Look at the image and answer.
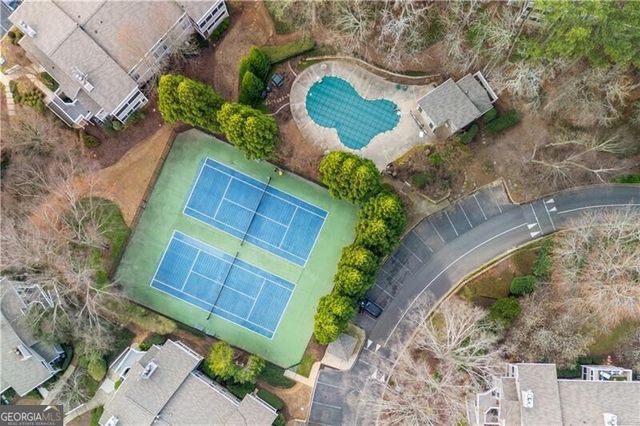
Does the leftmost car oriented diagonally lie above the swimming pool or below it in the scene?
below it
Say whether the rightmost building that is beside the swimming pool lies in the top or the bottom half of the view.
top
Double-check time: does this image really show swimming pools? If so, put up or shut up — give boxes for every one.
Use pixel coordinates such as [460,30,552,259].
[301,72,403,153]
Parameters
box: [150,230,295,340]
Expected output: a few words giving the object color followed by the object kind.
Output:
blue tennis court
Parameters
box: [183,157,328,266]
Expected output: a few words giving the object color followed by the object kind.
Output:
blue tennis court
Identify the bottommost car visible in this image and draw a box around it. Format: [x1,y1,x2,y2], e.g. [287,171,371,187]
[359,298,386,320]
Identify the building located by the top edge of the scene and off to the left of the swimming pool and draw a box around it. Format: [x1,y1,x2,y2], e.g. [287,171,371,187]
[8,0,229,128]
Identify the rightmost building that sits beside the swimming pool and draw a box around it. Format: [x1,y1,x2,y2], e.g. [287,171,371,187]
[416,69,500,138]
